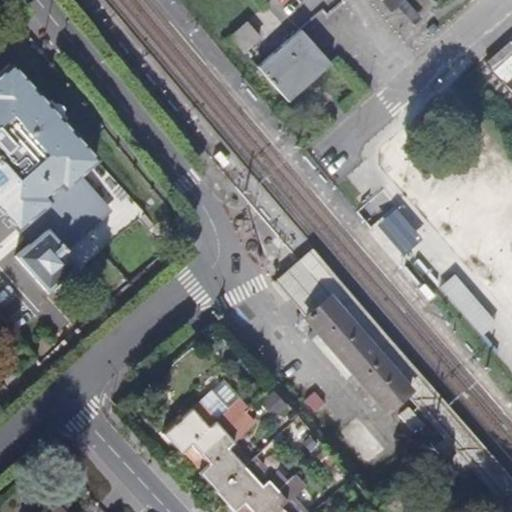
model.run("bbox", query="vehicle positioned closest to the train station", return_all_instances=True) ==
[284,360,302,376]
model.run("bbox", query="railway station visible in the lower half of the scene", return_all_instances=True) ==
[305,294,416,416]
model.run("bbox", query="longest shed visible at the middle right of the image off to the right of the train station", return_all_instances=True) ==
[440,274,494,334]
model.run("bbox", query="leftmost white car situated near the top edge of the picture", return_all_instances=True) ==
[282,2,298,18]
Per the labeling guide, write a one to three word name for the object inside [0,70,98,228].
building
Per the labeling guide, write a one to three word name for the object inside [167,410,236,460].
house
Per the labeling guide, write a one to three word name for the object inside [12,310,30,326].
car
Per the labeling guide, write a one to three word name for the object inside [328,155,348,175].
car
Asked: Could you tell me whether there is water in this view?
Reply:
No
